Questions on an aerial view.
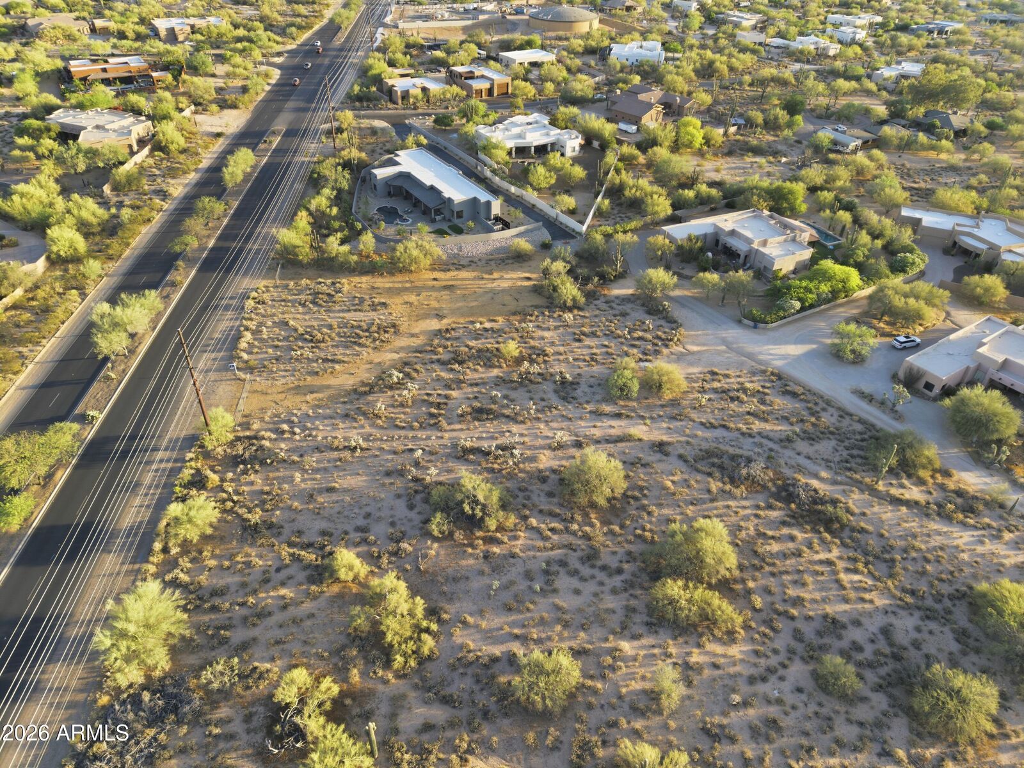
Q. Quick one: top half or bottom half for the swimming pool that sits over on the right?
top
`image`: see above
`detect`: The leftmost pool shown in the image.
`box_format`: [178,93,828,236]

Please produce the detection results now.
[375,205,411,224]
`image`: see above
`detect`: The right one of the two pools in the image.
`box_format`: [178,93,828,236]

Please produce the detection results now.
[800,219,842,246]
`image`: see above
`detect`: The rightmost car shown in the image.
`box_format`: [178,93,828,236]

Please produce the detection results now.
[892,333,923,348]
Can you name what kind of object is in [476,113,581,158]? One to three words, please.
house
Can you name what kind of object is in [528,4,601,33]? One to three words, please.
water tank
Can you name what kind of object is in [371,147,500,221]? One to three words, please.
house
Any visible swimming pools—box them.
[375,205,411,224]
[800,219,842,246]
